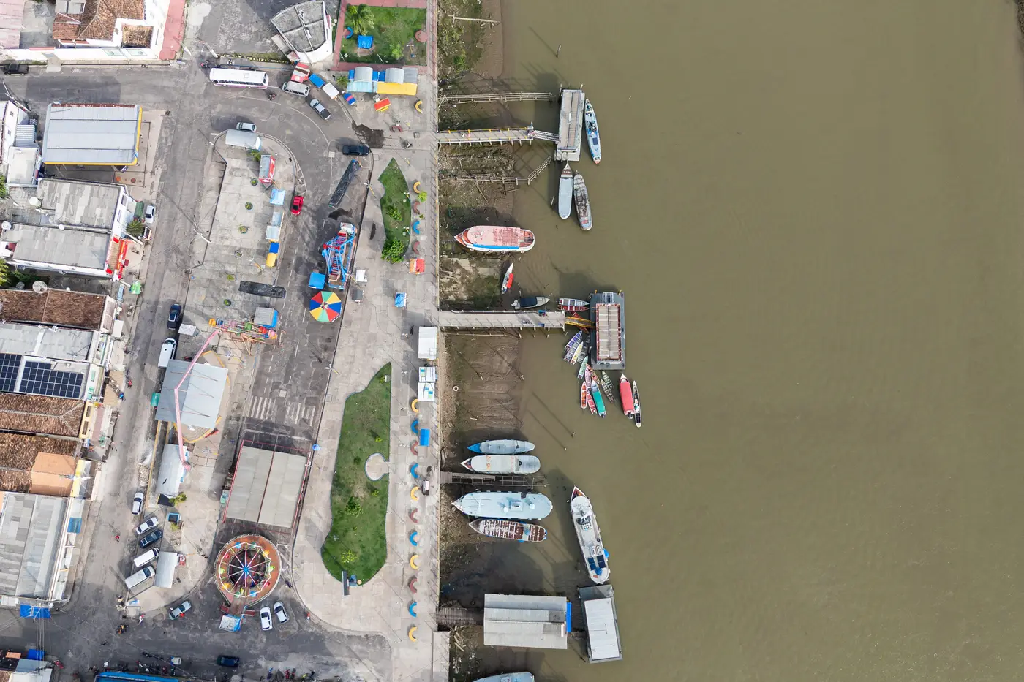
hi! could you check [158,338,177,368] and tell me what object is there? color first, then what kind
white vehicle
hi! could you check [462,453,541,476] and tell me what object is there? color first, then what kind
white boat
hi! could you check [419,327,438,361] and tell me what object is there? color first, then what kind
white tent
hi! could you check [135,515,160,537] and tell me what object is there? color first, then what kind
white car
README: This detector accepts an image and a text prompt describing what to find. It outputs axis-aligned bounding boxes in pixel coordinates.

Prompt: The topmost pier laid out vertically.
[556,89,585,163]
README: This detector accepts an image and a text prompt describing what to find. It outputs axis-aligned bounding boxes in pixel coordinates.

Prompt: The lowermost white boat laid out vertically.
[572,487,610,584]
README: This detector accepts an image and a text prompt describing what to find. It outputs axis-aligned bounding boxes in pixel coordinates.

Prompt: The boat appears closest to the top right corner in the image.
[584,97,601,165]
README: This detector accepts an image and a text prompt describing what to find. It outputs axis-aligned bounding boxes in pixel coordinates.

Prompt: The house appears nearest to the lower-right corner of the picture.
[484,594,572,649]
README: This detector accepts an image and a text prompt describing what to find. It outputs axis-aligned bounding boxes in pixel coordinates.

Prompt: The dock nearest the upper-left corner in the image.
[438,128,533,147]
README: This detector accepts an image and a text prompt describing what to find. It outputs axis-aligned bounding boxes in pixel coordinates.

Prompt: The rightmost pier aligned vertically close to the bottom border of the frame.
[578,585,623,664]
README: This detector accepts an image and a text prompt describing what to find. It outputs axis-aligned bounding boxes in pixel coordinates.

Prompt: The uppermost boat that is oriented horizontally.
[455,224,535,253]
